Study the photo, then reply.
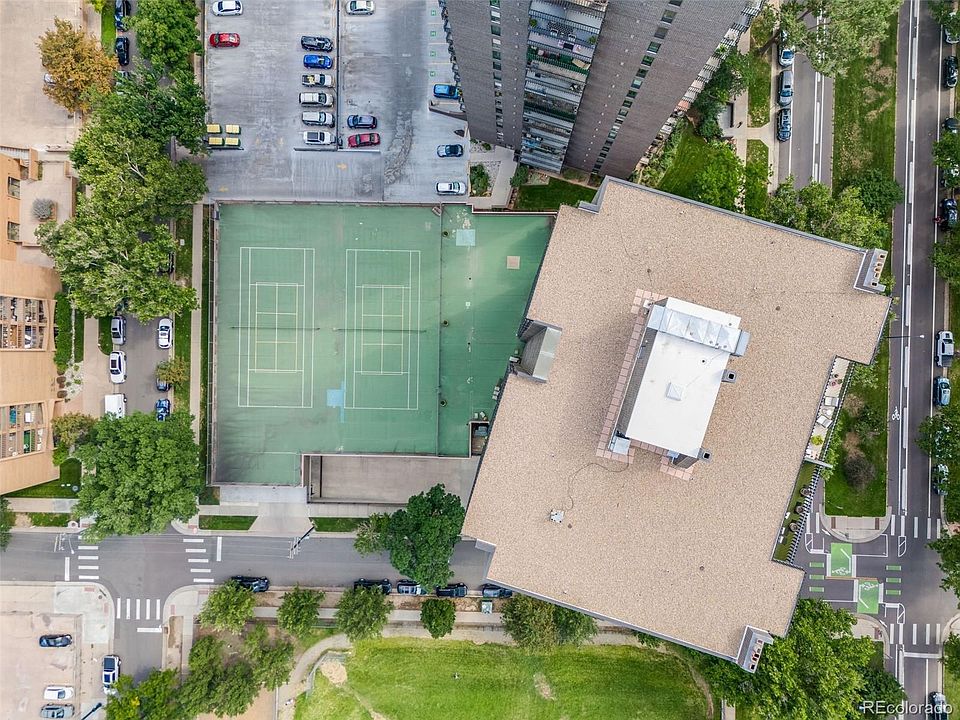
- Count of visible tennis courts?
2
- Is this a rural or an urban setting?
urban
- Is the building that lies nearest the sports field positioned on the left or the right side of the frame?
right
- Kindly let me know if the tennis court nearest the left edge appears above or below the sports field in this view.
above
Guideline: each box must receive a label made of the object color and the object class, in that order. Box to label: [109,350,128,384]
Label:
white car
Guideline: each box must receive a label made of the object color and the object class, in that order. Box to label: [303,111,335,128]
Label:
white car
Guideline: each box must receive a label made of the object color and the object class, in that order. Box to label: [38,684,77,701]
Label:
white vehicle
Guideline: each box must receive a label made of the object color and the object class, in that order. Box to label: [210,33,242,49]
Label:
red car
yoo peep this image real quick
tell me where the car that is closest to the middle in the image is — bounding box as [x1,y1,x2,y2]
[435,179,467,195]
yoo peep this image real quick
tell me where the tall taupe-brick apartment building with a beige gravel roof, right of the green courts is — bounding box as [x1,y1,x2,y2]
[458,174,892,671]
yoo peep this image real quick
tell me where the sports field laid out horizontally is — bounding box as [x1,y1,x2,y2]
[291,637,700,720]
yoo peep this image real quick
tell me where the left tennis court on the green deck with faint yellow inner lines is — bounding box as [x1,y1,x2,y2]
[232,245,321,411]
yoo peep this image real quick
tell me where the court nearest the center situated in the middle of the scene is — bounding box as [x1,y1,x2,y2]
[335,247,426,412]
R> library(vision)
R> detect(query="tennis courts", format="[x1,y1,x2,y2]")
[335,247,426,412]
[232,245,321,411]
